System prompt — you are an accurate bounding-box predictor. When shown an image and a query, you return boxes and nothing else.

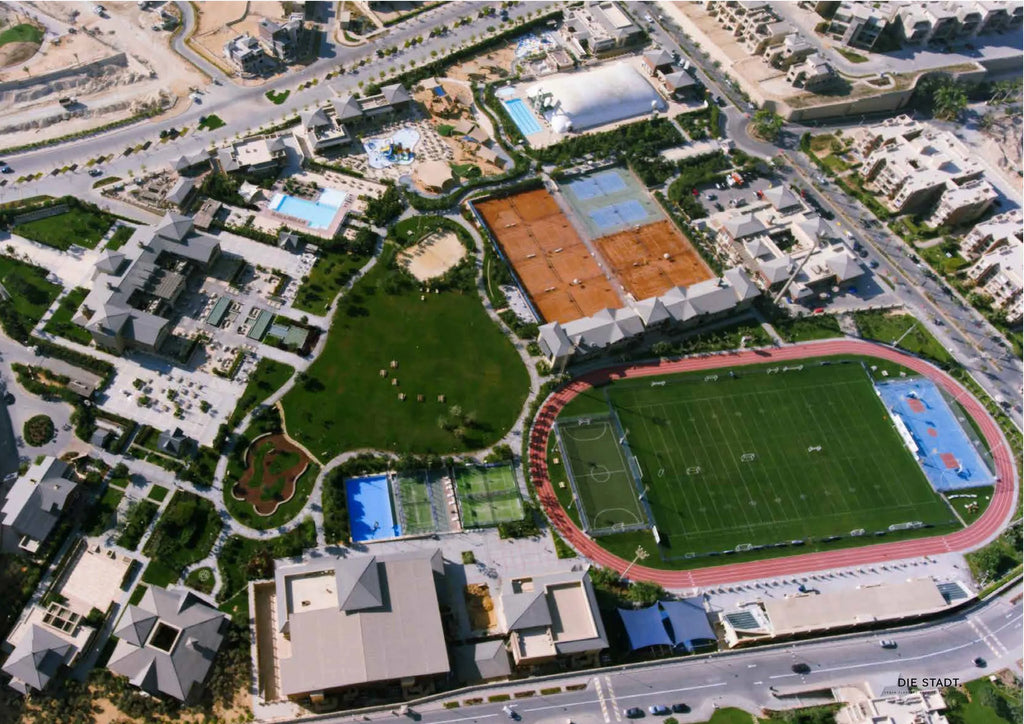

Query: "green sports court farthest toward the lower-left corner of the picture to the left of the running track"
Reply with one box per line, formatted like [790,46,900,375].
[399,477,435,534]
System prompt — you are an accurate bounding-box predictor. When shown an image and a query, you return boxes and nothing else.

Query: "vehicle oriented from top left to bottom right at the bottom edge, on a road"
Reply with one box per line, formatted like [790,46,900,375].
[503,705,519,720]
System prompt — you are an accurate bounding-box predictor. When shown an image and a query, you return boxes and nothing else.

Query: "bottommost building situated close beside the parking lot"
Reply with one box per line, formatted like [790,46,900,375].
[537,265,762,366]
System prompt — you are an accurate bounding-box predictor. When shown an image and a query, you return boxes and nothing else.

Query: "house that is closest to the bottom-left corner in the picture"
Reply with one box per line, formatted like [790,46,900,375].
[2,601,97,693]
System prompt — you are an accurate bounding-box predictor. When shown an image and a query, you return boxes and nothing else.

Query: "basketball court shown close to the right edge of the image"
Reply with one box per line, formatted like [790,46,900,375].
[877,377,994,490]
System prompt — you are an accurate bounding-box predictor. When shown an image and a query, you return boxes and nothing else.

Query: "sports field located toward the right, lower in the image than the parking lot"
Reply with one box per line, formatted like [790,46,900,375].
[611,360,958,561]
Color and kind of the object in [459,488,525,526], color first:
green sports court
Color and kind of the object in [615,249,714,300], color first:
orange tennis court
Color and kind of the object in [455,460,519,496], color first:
green sports court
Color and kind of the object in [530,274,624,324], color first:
orange tennis court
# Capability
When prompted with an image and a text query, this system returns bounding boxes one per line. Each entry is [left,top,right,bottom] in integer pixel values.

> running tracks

[530,341,1015,587]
